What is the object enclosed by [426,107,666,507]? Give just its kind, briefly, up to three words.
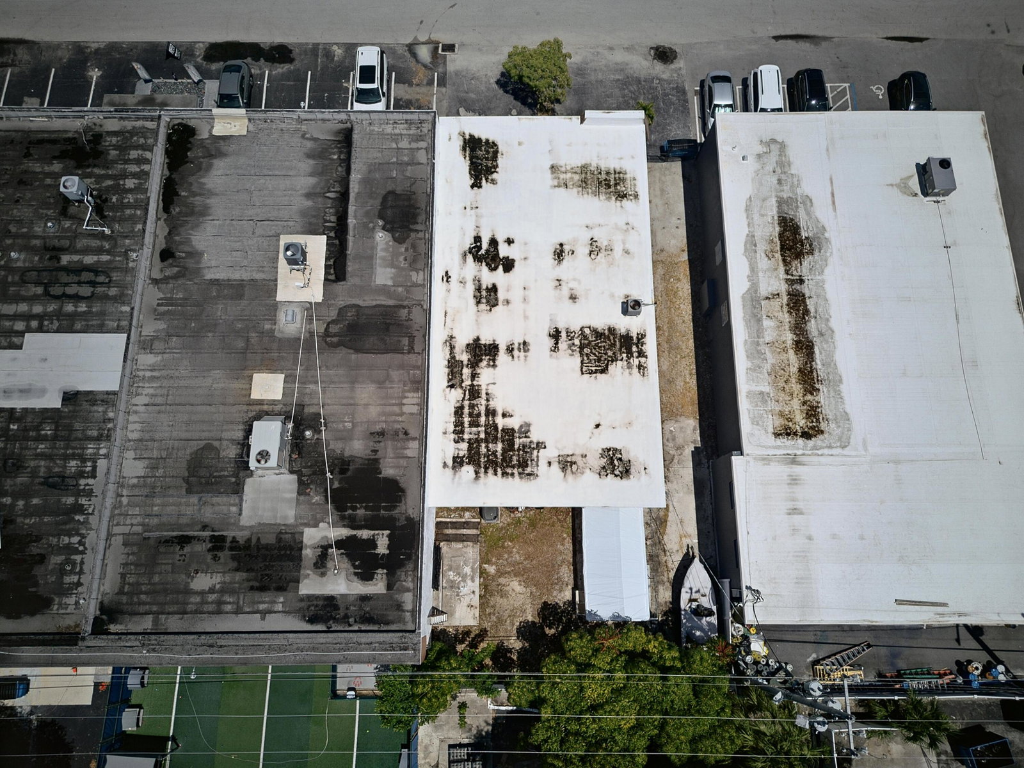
building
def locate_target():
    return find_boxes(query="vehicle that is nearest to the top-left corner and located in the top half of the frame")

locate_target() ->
[213,64,256,111]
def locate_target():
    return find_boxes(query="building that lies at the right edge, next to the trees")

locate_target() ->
[700,111,1024,623]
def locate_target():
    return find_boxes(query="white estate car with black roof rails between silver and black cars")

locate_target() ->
[744,68,783,111]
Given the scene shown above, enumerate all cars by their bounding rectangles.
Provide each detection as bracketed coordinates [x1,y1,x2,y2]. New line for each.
[788,72,829,111]
[744,68,783,111]
[701,73,736,136]
[350,49,389,111]
[889,74,934,111]
[213,64,256,111]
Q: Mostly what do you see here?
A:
buildings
